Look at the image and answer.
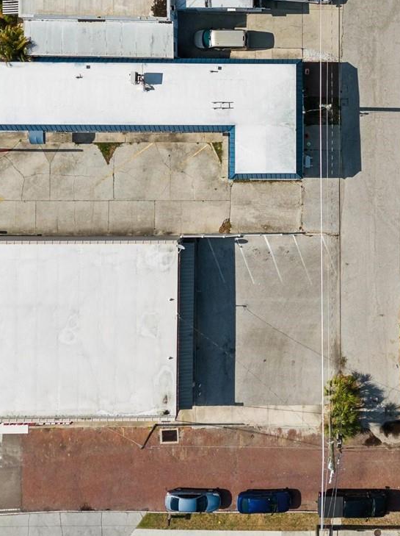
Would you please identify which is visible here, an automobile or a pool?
automobile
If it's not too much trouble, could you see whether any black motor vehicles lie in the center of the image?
No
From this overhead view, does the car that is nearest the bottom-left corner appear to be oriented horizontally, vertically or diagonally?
horizontally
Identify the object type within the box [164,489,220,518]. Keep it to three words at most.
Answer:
car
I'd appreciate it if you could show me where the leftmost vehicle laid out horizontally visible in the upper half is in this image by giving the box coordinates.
[194,25,249,51]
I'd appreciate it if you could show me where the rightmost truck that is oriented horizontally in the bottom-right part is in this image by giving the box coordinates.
[321,489,390,521]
